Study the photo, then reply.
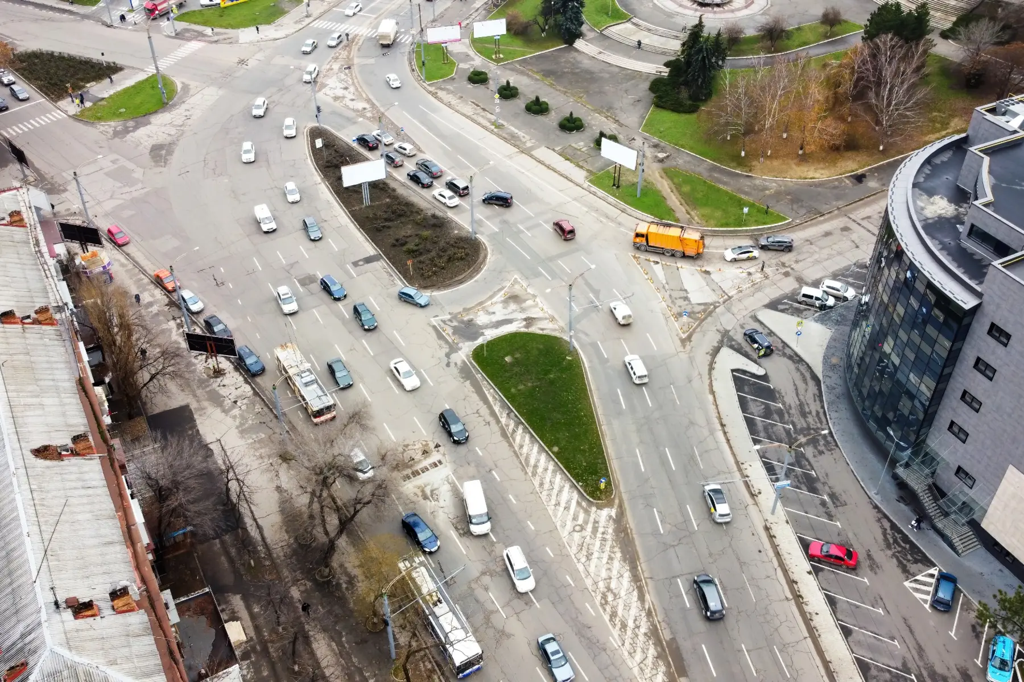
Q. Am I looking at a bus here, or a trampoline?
bus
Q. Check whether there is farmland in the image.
No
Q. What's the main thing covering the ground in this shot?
paved ground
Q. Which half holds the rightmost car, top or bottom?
bottom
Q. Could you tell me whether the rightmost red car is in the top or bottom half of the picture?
bottom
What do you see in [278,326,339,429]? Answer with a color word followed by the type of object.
white bus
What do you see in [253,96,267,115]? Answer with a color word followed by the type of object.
white car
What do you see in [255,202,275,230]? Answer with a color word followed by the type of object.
white vehicle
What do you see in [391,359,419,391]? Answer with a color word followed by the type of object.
white car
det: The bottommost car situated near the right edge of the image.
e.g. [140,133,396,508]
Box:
[988,633,1017,682]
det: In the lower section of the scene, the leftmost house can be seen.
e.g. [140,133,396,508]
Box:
[0,192,197,682]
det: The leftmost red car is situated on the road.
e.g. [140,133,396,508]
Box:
[108,225,128,247]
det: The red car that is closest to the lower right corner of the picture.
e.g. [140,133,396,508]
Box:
[807,542,859,569]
